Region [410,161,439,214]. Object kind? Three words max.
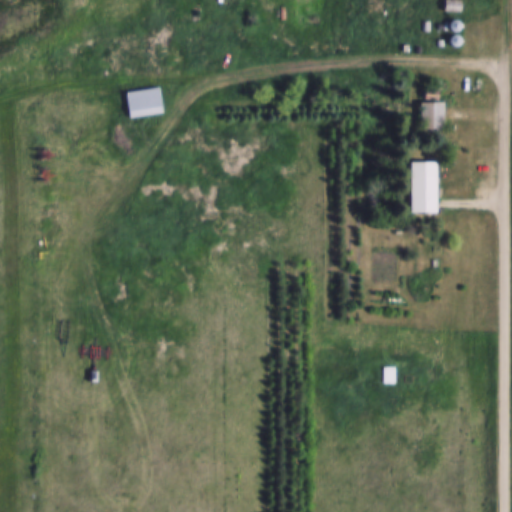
barn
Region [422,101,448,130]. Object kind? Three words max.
house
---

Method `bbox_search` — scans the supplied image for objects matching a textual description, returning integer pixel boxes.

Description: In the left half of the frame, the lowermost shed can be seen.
[128,88,164,118]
